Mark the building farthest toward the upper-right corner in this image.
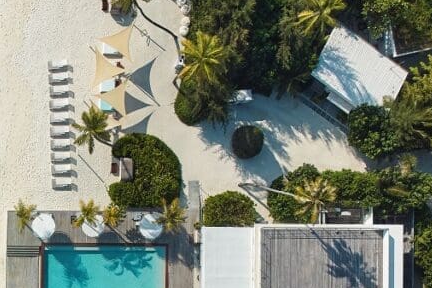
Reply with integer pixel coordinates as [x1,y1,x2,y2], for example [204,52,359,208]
[285,27,413,135]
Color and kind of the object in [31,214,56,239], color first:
white umbrella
